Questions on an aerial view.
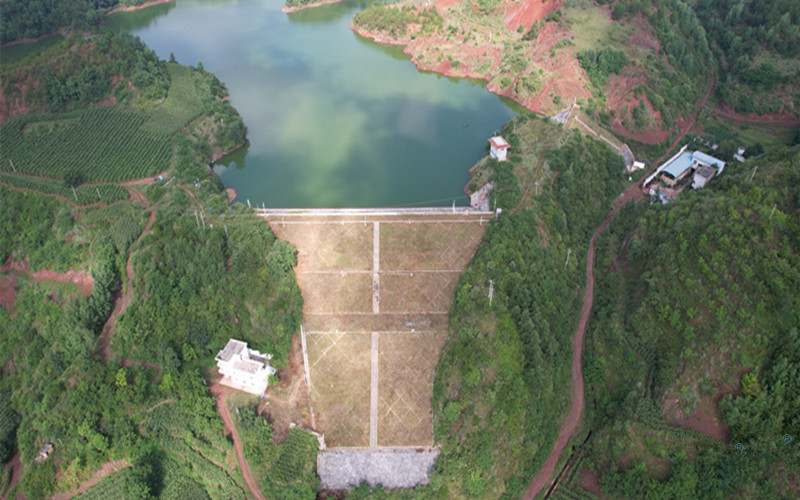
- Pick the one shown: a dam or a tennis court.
dam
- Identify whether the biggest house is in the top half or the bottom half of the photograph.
bottom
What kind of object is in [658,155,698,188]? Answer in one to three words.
building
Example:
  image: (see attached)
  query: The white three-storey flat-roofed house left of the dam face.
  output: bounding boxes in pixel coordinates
[216,344,279,402]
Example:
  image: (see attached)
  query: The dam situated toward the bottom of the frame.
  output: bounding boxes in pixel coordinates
[252,207,498,491]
